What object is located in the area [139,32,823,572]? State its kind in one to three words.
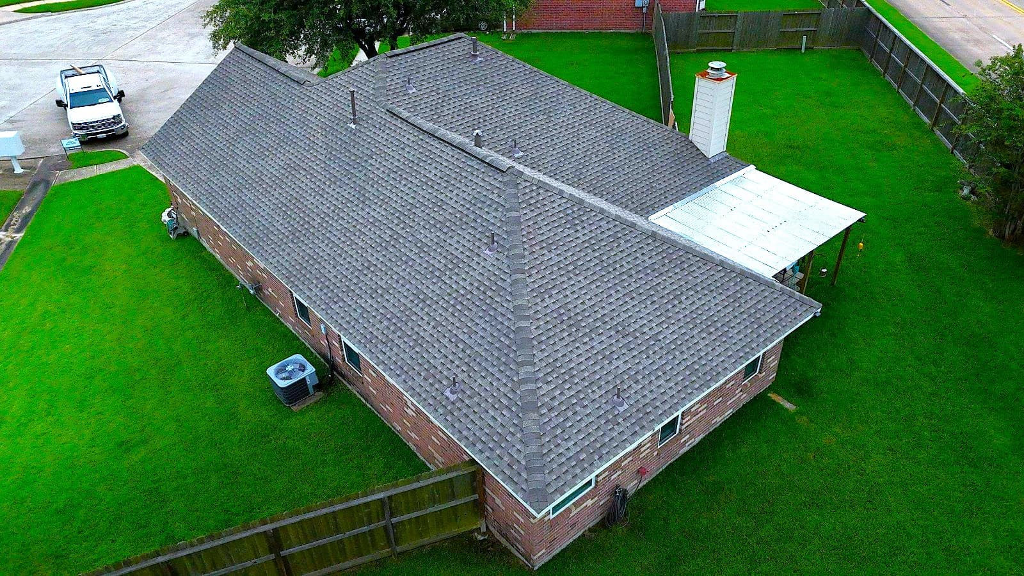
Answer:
house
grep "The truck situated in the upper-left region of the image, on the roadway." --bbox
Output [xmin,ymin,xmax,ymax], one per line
[54,64,130,146]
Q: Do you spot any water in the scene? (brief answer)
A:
No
